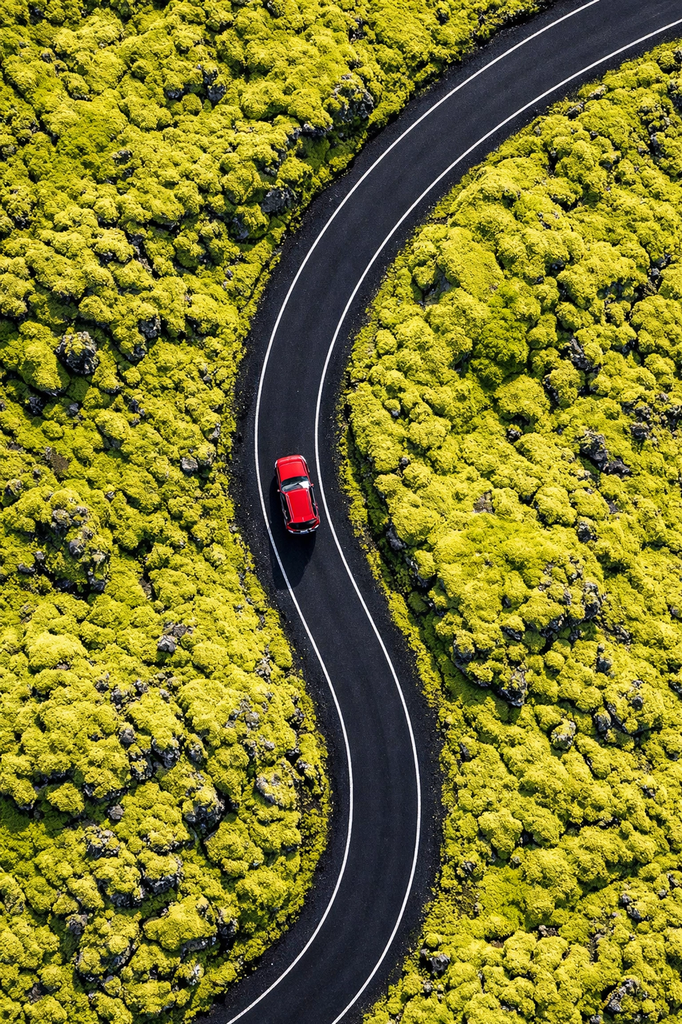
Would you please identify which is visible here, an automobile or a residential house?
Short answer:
automobile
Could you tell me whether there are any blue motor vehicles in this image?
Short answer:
No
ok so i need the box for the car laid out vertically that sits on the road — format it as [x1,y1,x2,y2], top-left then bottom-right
[275,456,319,536]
